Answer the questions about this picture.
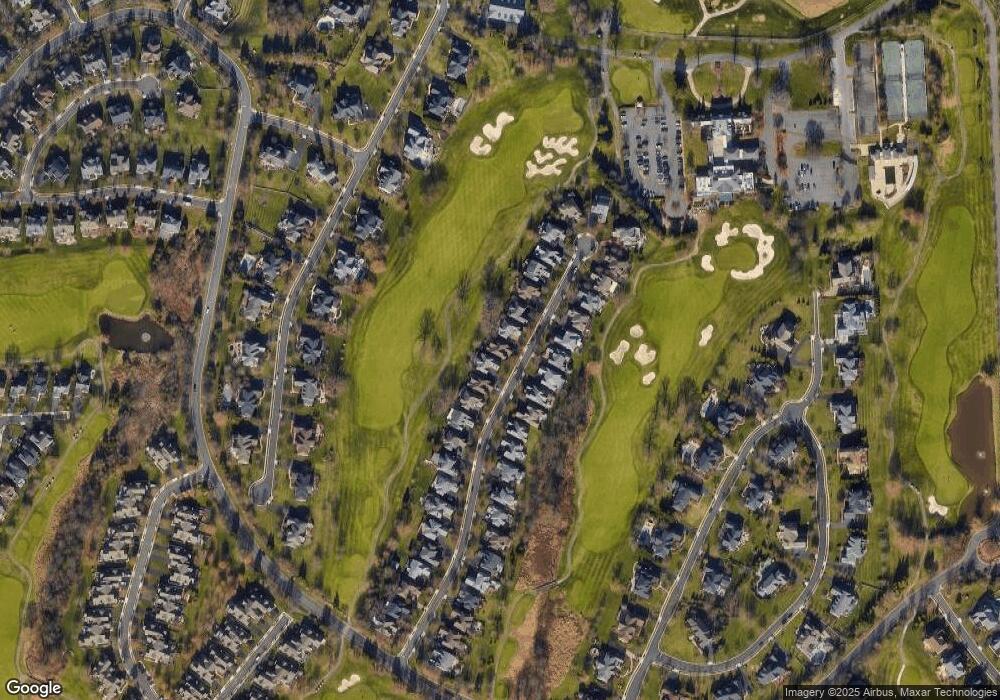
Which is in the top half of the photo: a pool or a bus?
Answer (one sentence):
You can see a pool in the top half of the photo.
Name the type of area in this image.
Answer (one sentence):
What you see here is a residential area.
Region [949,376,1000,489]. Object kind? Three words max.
pond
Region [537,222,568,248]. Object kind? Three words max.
house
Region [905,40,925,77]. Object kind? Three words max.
tennis court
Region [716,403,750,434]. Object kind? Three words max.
house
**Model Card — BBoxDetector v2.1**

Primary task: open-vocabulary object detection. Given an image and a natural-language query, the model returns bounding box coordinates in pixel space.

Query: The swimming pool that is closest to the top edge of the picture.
[318,18,334,33]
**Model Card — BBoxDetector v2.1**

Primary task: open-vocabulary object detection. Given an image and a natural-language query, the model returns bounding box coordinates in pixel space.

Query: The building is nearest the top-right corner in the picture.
[870,144,905,158]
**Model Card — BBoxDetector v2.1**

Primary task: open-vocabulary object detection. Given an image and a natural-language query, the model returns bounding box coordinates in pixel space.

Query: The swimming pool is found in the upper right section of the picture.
[869,156,919,209]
